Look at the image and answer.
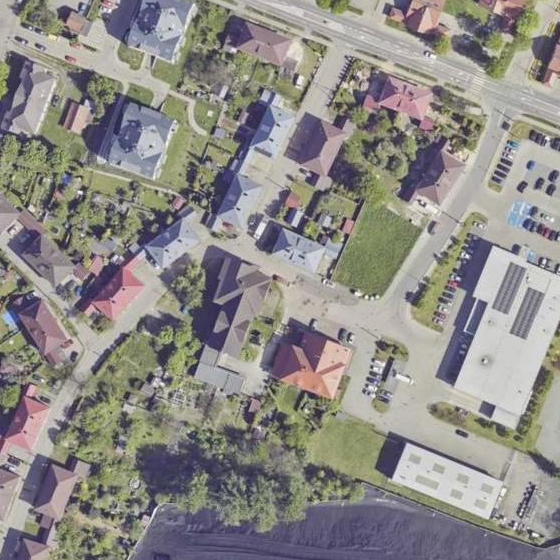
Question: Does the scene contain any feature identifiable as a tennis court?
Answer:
No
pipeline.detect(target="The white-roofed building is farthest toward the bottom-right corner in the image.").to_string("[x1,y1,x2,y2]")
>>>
[392,443,504,519]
